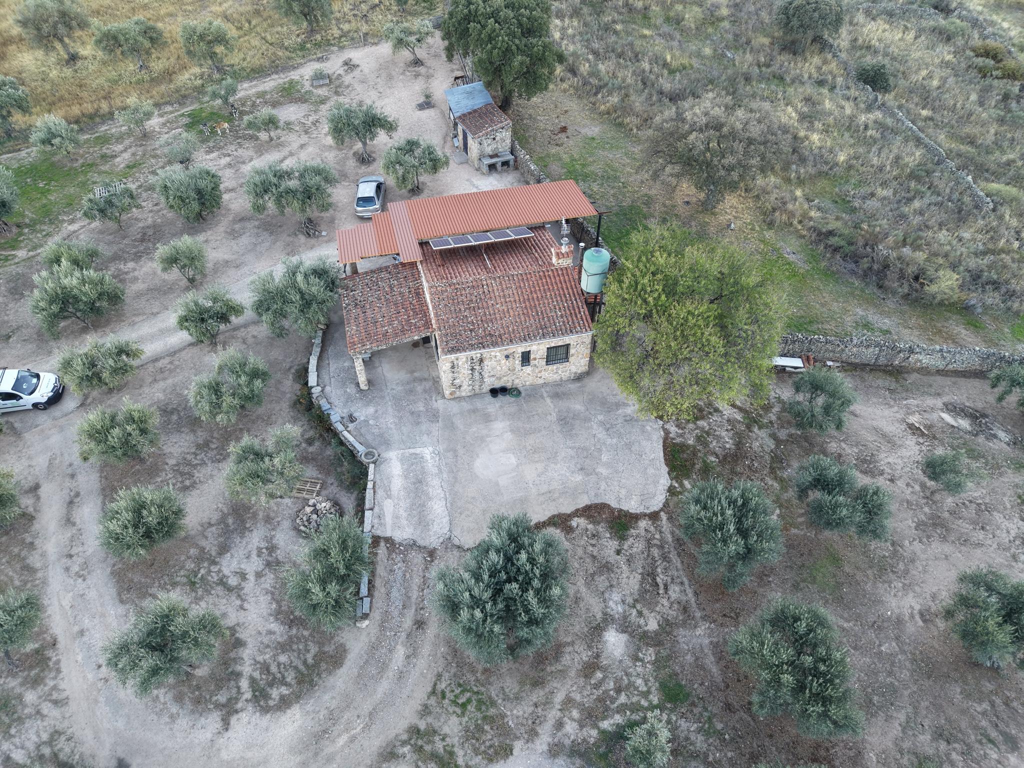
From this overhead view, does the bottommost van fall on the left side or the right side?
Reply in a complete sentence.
The bottommost van is on the left side of the image.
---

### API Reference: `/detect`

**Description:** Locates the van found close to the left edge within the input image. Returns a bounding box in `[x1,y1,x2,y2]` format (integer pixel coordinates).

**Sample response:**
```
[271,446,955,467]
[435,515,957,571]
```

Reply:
[0,365,63,413]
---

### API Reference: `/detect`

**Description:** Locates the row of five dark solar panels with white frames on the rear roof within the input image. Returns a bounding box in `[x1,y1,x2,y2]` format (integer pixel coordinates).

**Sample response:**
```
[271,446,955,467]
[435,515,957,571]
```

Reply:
[431,227,535,271]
